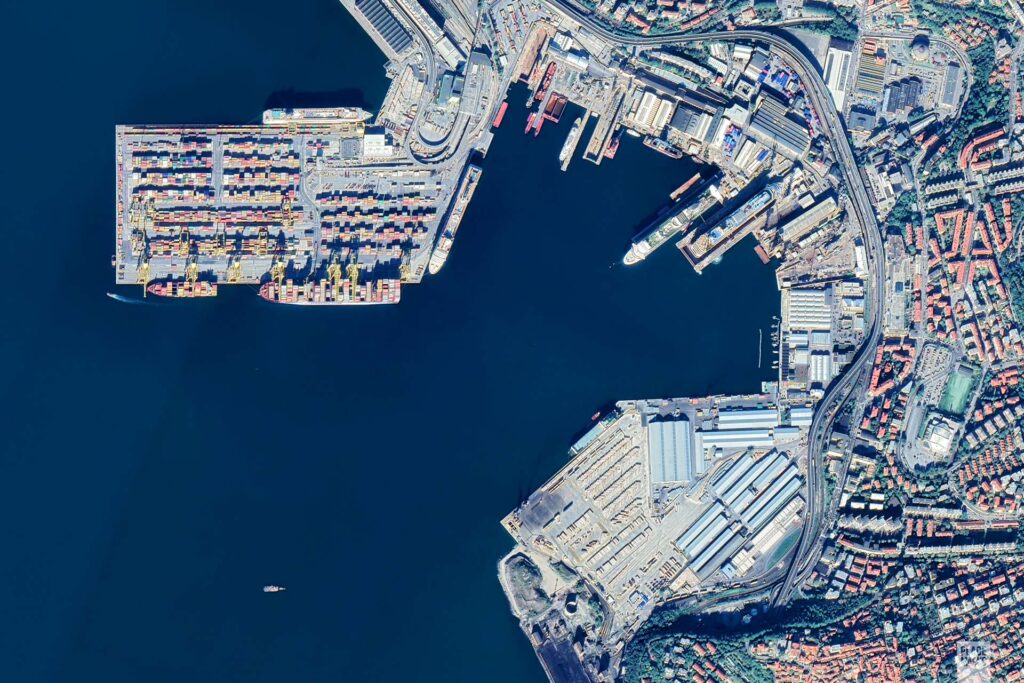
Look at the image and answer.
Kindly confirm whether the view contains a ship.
Yes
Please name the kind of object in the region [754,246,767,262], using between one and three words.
ship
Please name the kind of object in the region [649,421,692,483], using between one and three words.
building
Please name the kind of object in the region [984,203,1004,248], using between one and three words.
building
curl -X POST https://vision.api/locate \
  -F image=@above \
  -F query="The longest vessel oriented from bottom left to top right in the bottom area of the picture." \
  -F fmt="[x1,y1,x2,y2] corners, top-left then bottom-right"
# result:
[569,408,618,453]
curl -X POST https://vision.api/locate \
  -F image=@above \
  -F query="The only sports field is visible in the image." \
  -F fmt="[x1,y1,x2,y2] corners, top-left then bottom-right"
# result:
[939,372,974,413]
